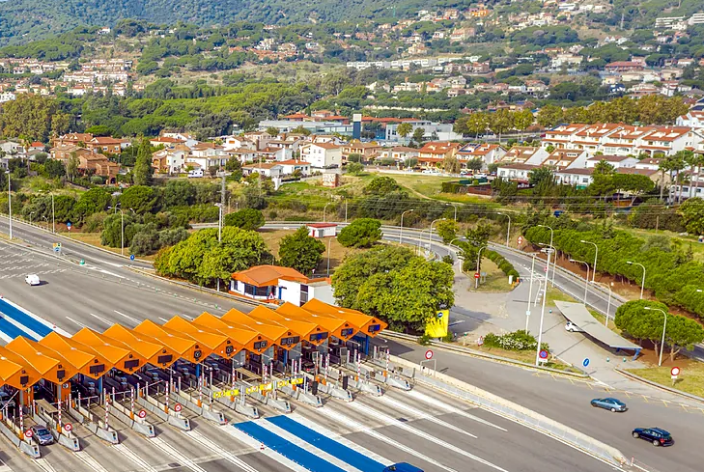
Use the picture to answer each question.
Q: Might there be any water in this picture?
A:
No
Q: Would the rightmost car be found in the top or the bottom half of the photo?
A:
bottom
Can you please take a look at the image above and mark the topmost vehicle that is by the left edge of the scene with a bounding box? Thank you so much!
[24,272,42,284]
